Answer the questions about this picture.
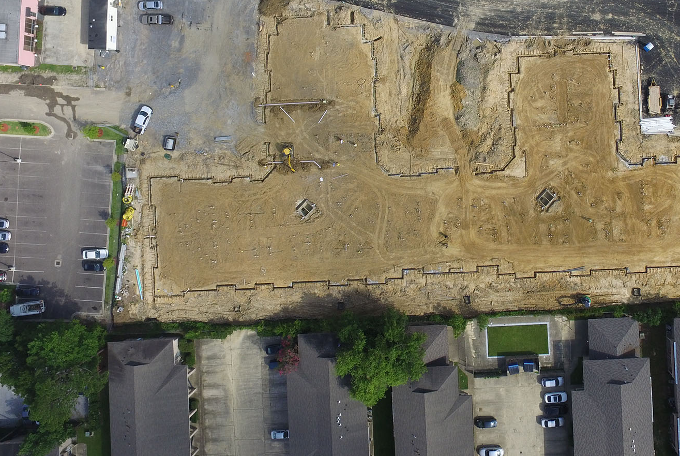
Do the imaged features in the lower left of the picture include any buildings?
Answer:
Yes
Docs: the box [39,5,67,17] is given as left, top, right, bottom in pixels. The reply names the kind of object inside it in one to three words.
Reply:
vehicle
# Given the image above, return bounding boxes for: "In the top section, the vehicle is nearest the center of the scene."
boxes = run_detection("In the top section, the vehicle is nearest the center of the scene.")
[279,148,295,173]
